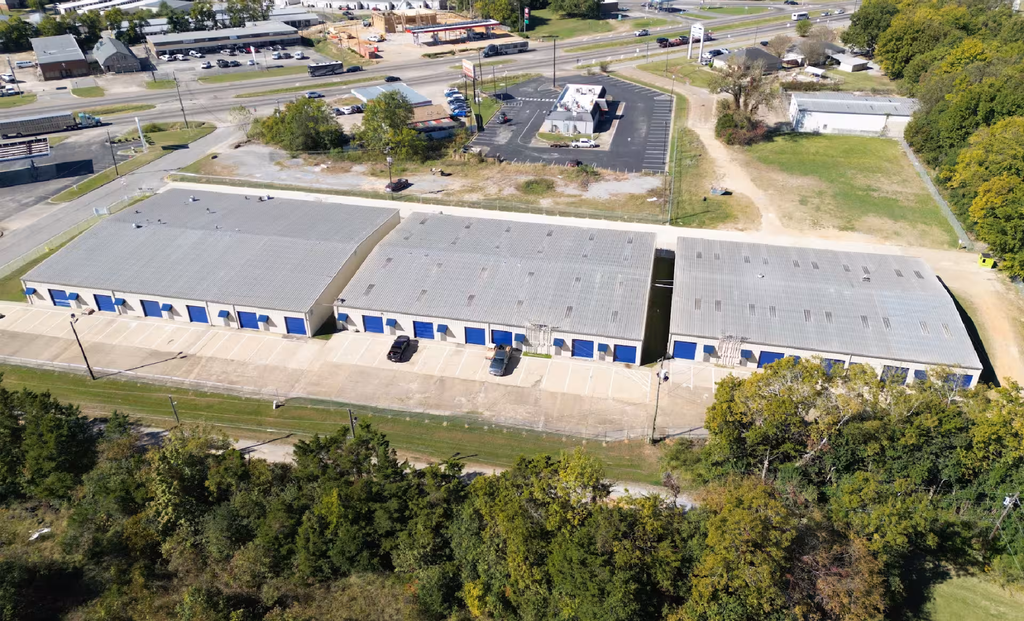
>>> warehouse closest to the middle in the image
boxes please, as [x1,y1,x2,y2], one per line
[330,211,658,364]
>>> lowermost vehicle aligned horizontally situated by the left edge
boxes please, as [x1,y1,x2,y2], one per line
[0,114,102,137]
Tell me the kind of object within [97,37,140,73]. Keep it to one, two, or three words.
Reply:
barn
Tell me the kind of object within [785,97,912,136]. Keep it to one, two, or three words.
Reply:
building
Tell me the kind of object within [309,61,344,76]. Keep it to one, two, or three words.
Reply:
camper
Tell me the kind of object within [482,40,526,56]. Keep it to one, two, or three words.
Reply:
vehicle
